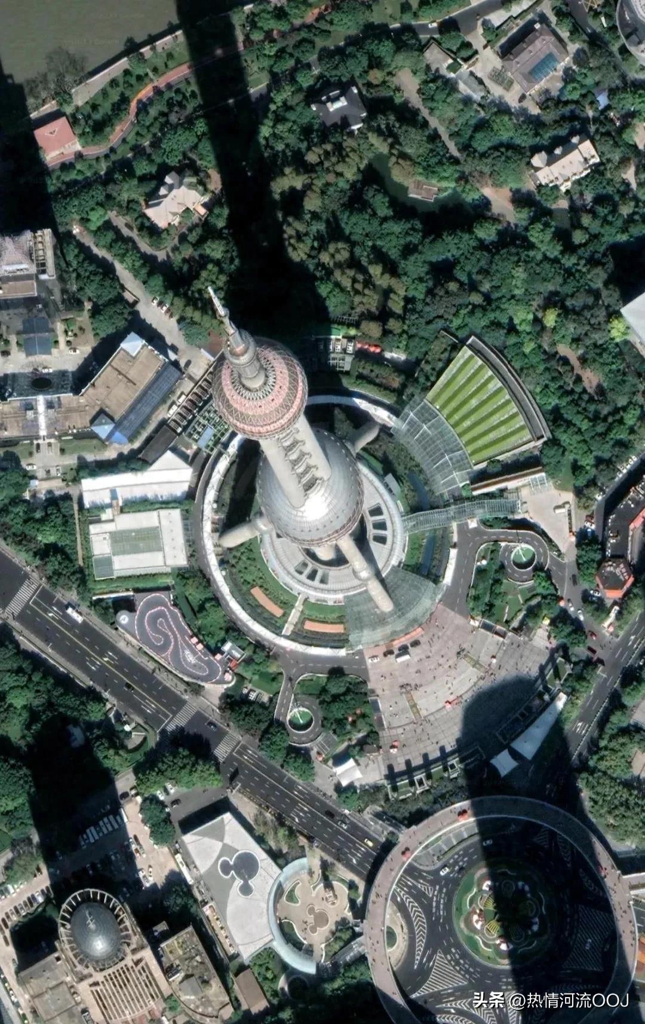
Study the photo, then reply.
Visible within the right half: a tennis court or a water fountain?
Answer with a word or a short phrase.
water fountain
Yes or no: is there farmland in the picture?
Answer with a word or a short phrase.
No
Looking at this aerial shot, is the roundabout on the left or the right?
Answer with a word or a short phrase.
right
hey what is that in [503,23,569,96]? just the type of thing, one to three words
house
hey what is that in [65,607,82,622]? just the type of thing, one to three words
vehicle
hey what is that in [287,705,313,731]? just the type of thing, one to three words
fountain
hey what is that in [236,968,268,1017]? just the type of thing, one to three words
shed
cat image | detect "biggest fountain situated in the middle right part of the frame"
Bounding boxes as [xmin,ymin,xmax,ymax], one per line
[511,542,536,569]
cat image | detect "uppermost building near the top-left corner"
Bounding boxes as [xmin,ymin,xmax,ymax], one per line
[34,117,78,159]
